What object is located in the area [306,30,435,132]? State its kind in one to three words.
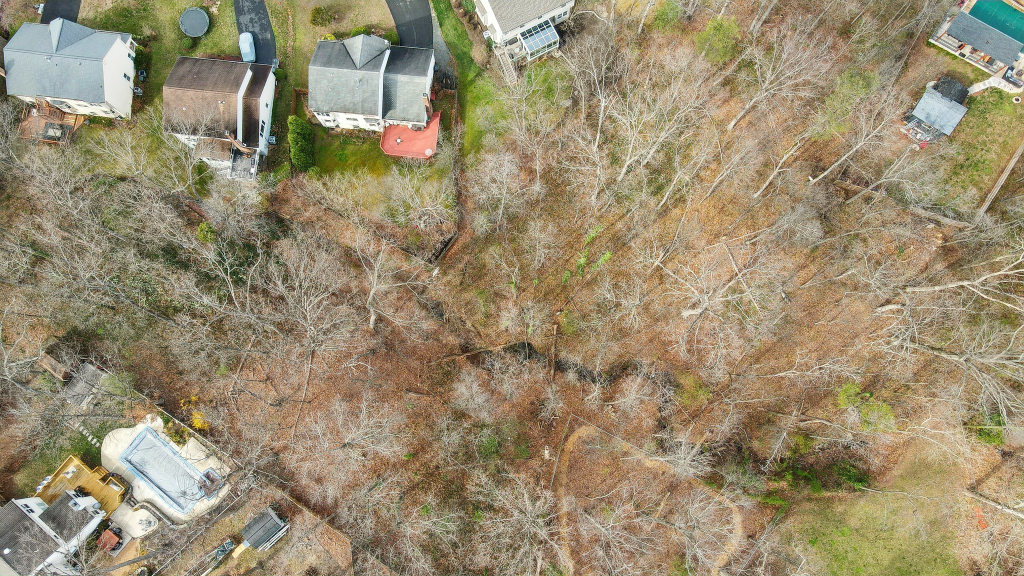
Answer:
house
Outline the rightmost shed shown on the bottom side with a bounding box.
[243,505,288,549]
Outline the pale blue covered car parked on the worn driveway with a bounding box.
[241,34,258,64]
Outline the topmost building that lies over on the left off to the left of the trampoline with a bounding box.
[0,13,148,121]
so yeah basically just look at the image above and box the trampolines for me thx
[180,8,211,43]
